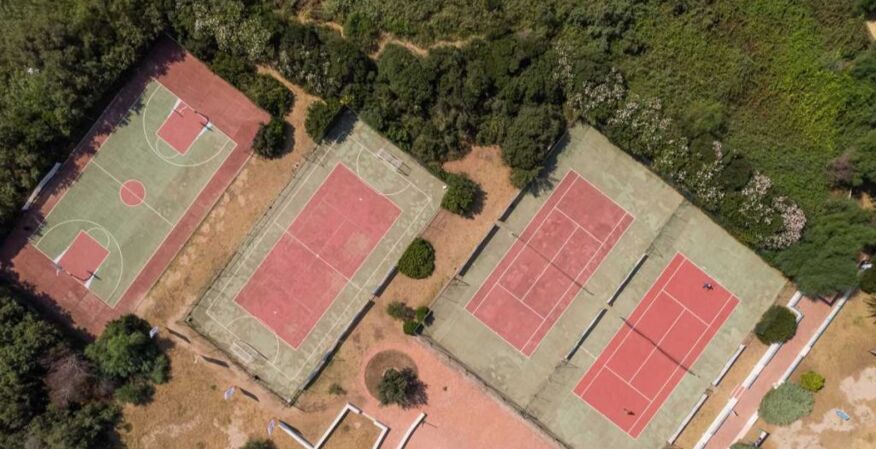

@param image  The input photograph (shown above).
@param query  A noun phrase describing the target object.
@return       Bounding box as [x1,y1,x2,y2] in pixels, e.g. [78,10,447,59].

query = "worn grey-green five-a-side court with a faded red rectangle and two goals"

[186,112,443,403]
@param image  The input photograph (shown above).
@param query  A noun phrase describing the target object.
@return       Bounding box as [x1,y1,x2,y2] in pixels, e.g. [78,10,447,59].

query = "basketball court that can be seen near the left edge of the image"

[0,34,274,347]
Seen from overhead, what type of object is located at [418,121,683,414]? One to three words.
tennis court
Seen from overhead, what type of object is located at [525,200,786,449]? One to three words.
tennis court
